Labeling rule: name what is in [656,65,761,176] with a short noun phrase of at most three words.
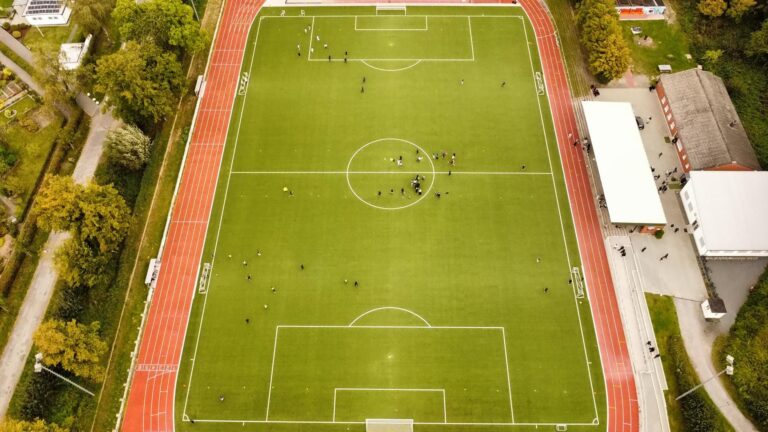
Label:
building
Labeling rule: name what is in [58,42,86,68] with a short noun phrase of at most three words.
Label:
building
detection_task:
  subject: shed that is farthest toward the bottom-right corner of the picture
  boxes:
[700,296,729,322]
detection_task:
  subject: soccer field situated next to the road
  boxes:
[174,7,607,432]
